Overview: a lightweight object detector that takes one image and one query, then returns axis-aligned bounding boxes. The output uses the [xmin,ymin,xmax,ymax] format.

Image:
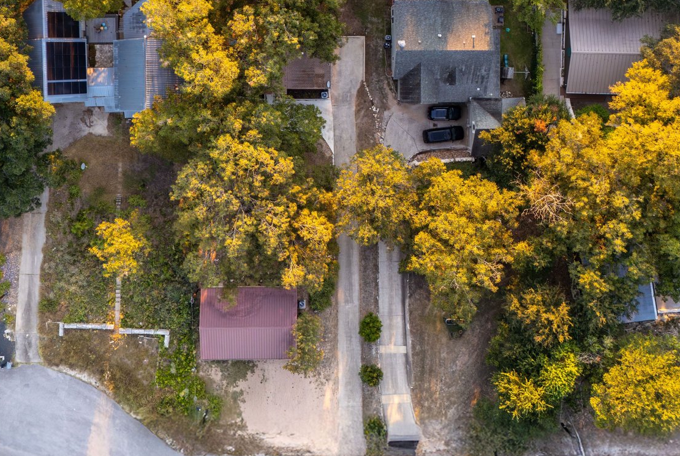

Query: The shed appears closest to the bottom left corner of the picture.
[200,284,298,361]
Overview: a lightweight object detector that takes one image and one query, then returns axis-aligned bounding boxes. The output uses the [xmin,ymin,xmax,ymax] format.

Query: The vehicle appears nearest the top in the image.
[427,105,463,123]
